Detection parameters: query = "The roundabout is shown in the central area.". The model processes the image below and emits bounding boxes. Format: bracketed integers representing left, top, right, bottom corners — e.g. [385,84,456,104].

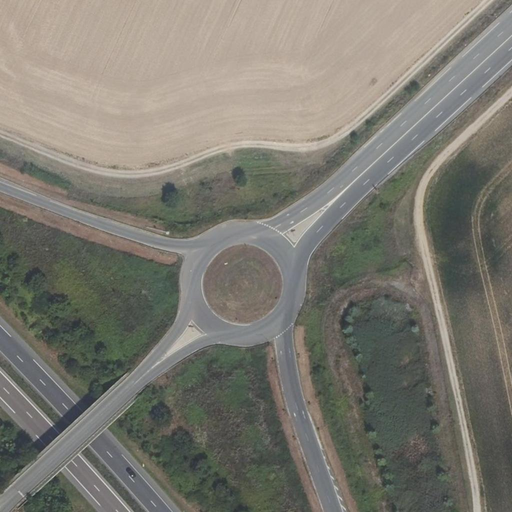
[158,192,342,364]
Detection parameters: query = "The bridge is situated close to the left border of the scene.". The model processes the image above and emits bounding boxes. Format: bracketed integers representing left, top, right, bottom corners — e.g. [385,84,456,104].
[0,365,152,512]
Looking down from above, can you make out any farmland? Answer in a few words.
Yes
